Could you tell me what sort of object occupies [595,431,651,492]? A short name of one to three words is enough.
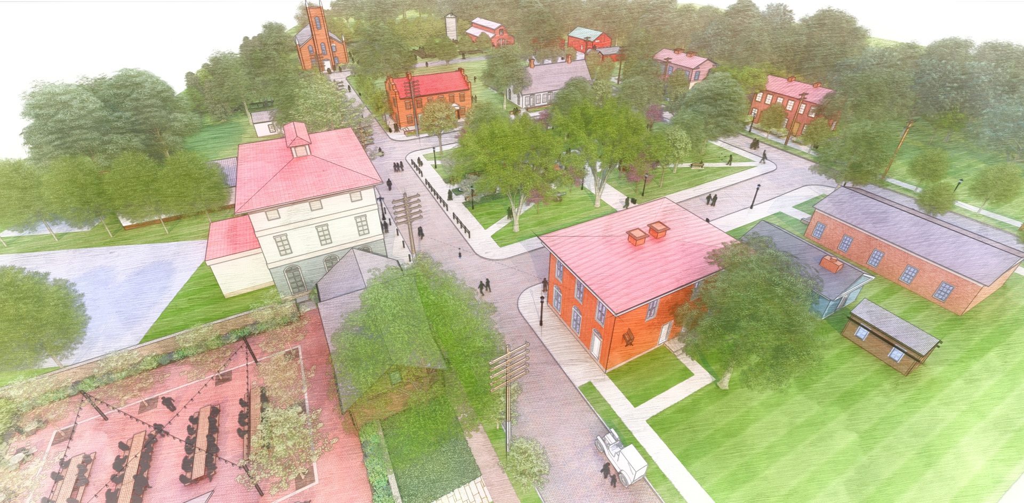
car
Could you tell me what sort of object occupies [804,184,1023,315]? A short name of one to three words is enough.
building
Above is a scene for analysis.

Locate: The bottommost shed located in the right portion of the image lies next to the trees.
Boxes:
[842,291,955,376]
